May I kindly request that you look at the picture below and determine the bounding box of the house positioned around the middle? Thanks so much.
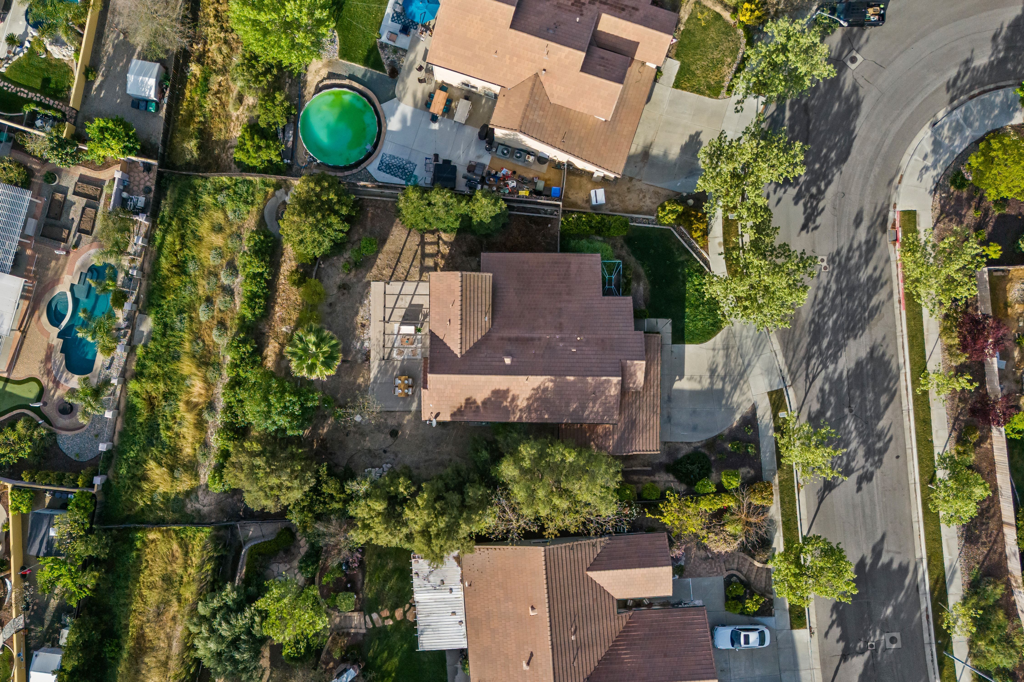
[421,252,662,456]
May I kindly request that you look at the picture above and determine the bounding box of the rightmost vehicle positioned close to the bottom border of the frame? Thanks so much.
[712,622,772,653]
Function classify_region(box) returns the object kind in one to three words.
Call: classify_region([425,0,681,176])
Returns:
house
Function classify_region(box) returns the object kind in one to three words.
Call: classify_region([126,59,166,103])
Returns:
shed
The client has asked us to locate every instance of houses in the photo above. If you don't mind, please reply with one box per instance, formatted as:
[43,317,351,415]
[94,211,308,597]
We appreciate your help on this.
[421,252,662,456]
[425,0,681,176]
[460,529,719,682]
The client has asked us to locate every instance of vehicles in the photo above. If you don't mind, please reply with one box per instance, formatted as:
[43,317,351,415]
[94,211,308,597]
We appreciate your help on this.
[815,0,887,33]
[712,622,772,653]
